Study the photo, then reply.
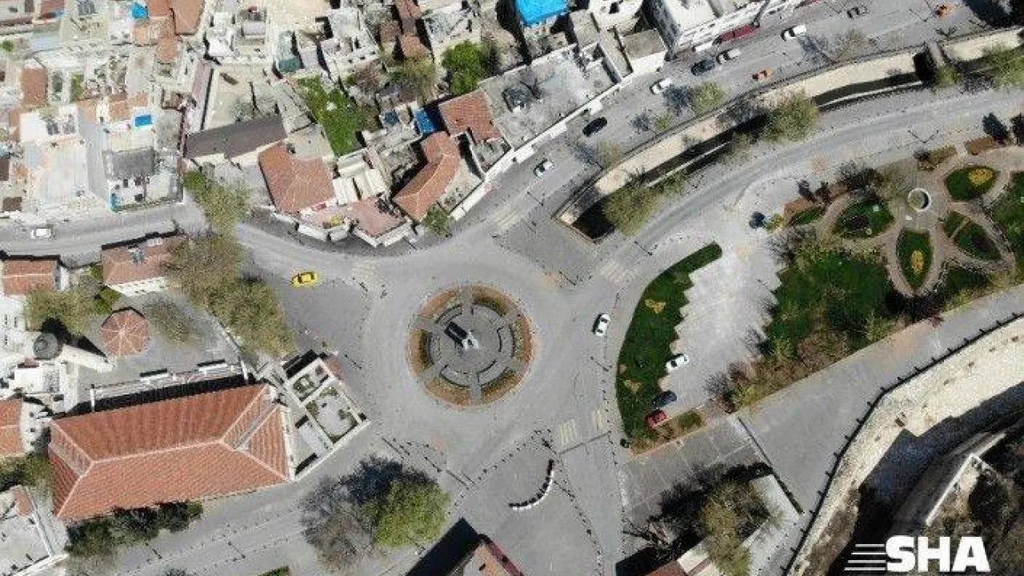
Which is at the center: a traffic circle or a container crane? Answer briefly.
traffic circle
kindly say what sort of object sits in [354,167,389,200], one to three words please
shed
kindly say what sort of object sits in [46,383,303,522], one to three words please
building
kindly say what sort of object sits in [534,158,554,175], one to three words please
car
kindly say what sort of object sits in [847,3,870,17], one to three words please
car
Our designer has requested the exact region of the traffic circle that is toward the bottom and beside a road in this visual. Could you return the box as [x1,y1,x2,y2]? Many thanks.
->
[408,284,534,409]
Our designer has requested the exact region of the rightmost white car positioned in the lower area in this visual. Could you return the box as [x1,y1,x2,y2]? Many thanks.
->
[666,353,691,371]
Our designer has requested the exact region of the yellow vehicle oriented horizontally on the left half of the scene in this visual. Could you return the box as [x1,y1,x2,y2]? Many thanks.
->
[292,272,316,285]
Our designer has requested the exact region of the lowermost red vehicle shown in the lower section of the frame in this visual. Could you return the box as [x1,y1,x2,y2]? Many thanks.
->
[646,410,669,427]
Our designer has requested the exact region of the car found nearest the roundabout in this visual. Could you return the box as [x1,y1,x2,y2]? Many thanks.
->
[596,312,609,337]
